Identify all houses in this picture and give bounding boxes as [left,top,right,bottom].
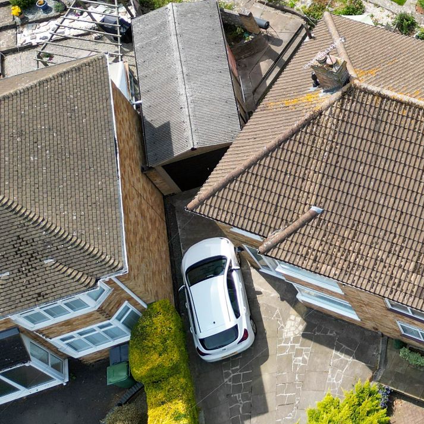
[185,14,424,350]
[0,59,182,400]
